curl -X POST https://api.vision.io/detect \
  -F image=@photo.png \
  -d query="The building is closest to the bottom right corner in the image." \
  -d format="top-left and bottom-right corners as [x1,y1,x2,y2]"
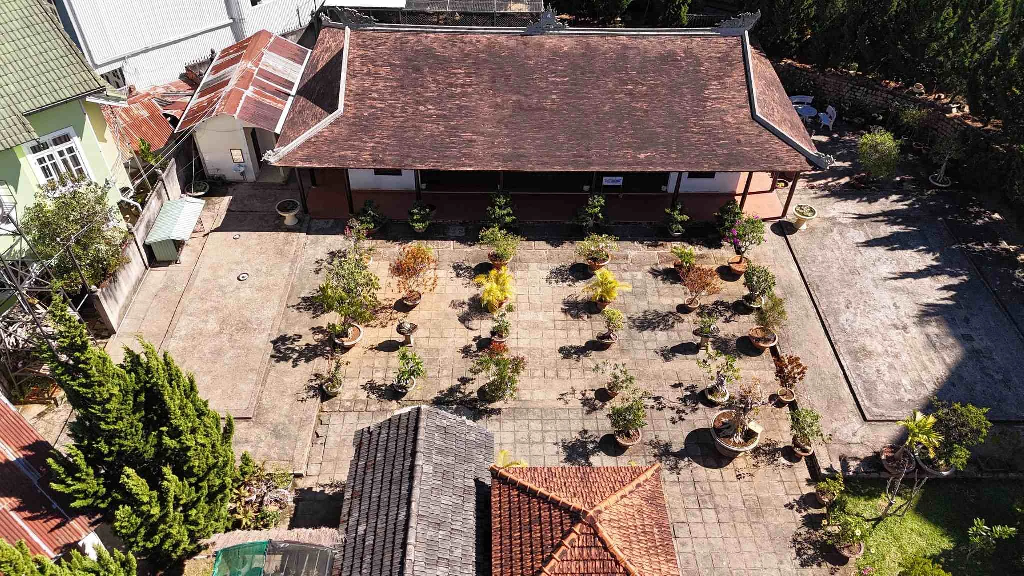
[487,461,684,576]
